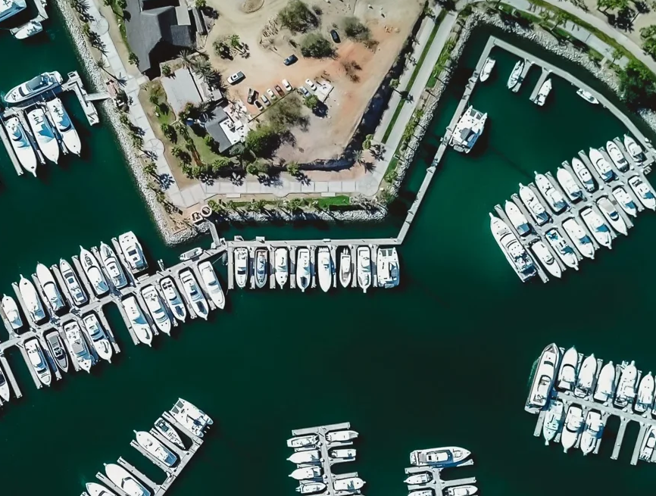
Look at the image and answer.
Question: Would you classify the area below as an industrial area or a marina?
marina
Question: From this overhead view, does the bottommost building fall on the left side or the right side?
left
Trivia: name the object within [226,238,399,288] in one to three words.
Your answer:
pier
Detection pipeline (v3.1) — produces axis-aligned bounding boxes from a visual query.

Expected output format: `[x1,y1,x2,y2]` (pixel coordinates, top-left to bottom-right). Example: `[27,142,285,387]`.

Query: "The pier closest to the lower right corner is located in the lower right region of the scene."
[534,347,656,464]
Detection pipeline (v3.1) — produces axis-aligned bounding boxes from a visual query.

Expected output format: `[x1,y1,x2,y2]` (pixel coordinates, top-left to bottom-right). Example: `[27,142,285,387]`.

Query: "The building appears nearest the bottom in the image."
[206,107,242,153]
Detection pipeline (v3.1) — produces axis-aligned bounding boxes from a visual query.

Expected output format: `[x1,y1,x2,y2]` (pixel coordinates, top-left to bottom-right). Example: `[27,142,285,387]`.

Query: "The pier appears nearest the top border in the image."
[12,0,47,32]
